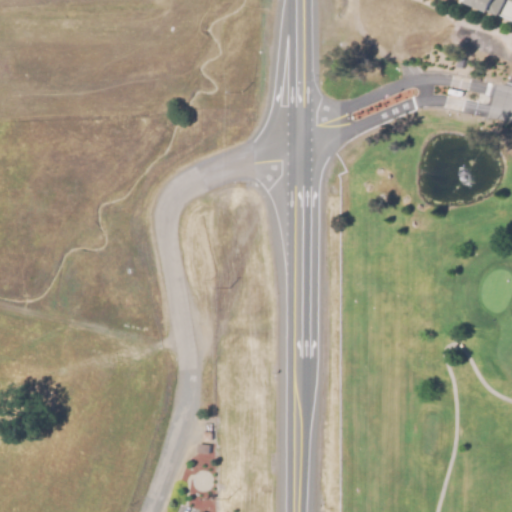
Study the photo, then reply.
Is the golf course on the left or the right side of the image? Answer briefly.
right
